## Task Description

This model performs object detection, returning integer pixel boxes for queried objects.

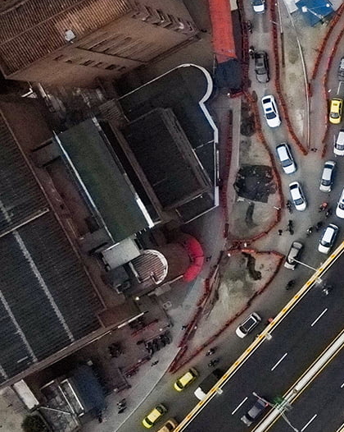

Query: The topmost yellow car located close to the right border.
[329,97,344,124]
